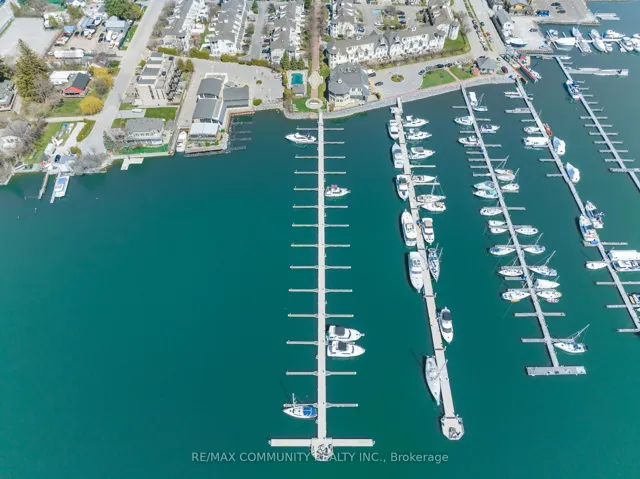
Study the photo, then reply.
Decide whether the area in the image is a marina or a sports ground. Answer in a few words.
marina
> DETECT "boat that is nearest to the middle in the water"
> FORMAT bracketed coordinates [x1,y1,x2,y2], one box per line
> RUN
[324,184,350,196]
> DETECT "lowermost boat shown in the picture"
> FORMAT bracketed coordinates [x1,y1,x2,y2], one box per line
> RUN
[284,396,317,418]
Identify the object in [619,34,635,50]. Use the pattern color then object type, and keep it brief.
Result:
white boat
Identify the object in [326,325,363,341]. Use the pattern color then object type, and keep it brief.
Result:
white boat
